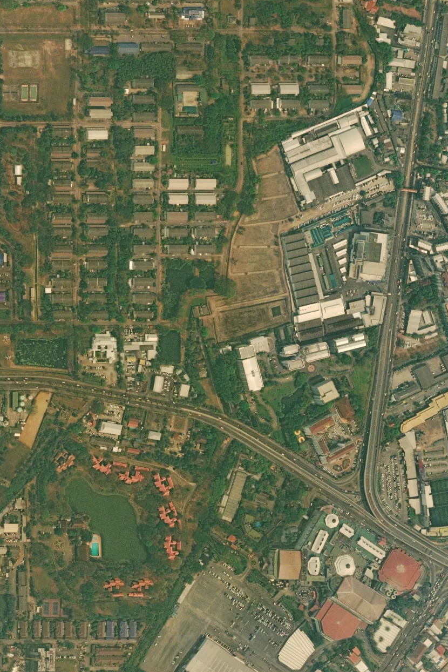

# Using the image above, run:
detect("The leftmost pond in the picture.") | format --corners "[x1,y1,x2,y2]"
[15,338,73,369]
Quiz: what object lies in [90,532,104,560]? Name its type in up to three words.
swimming pool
